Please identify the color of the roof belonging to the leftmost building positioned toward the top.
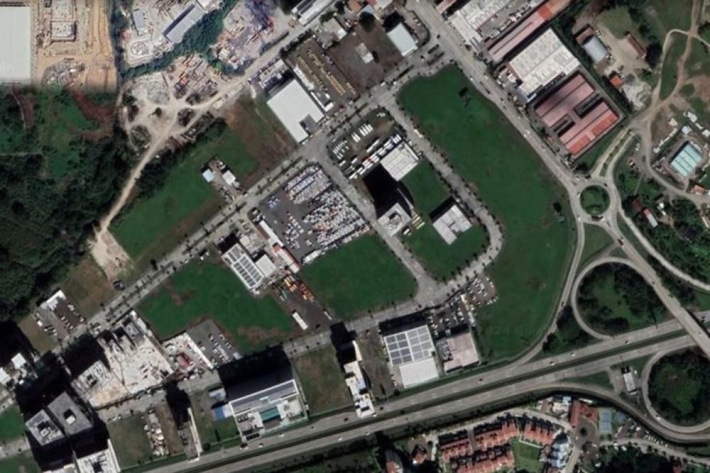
white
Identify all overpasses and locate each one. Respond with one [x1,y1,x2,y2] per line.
[608,225,710,364]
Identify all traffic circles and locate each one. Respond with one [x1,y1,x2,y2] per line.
[572,177,618,224]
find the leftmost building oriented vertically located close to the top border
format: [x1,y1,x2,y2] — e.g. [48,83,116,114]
[0,6,32,80]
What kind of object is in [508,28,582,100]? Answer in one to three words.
building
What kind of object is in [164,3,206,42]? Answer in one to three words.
building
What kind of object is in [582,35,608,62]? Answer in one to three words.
shed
